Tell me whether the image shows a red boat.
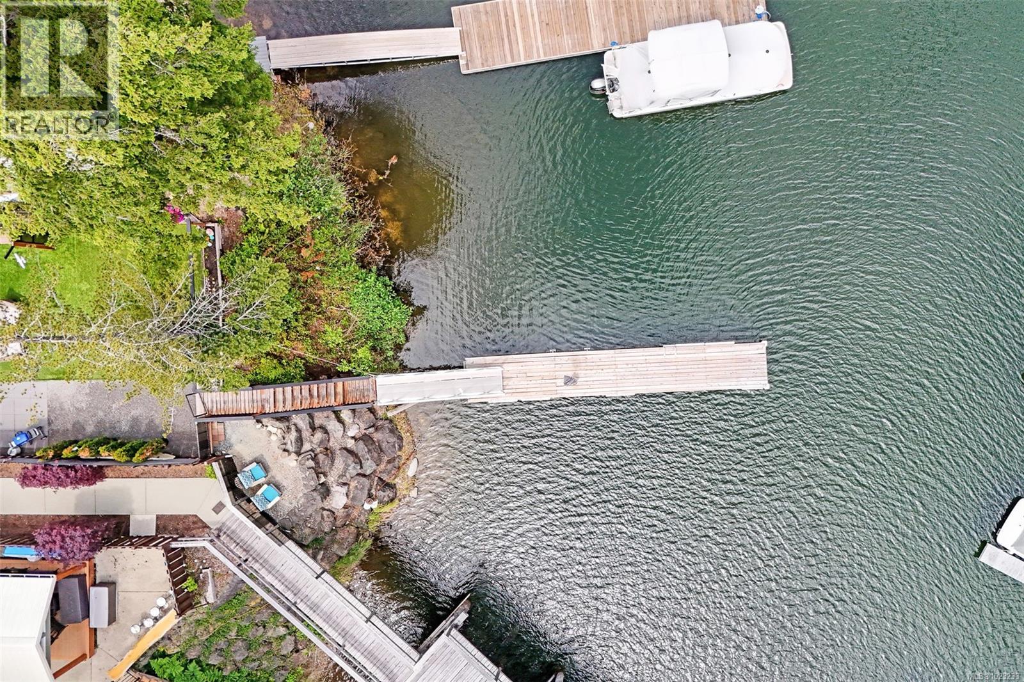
No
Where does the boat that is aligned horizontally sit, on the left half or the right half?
right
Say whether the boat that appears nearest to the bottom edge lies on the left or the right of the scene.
right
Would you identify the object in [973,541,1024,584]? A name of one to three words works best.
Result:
pier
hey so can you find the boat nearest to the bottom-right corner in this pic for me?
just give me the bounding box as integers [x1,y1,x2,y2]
[986,499,1024,563]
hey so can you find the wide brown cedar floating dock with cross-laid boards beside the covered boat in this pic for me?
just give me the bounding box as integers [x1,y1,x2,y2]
[451,0,771,77]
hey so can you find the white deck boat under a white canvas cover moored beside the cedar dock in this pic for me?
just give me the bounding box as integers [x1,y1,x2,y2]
[587,25,791,120]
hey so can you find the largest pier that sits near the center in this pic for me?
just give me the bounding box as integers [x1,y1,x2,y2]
[465,341,771,403]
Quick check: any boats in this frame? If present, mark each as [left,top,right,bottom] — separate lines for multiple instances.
[587,25,791,120]
[986,499,1024,563]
